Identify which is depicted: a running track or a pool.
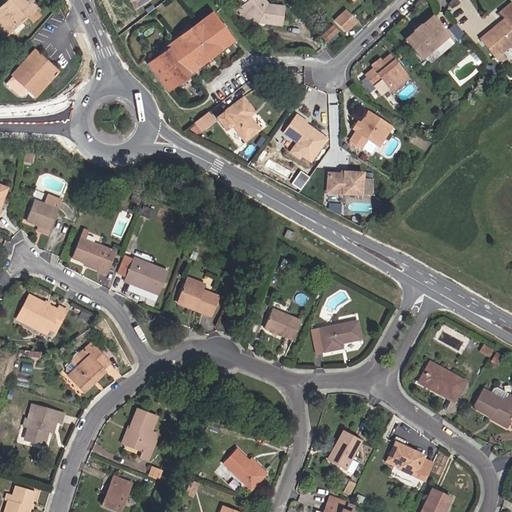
pool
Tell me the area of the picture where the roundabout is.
top left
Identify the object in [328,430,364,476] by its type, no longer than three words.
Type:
house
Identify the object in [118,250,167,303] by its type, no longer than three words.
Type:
house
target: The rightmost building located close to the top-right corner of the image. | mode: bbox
[480,3,512,62]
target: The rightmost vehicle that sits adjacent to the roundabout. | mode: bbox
[132,91,146,122]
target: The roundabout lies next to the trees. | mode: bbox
[88,94,138,146]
